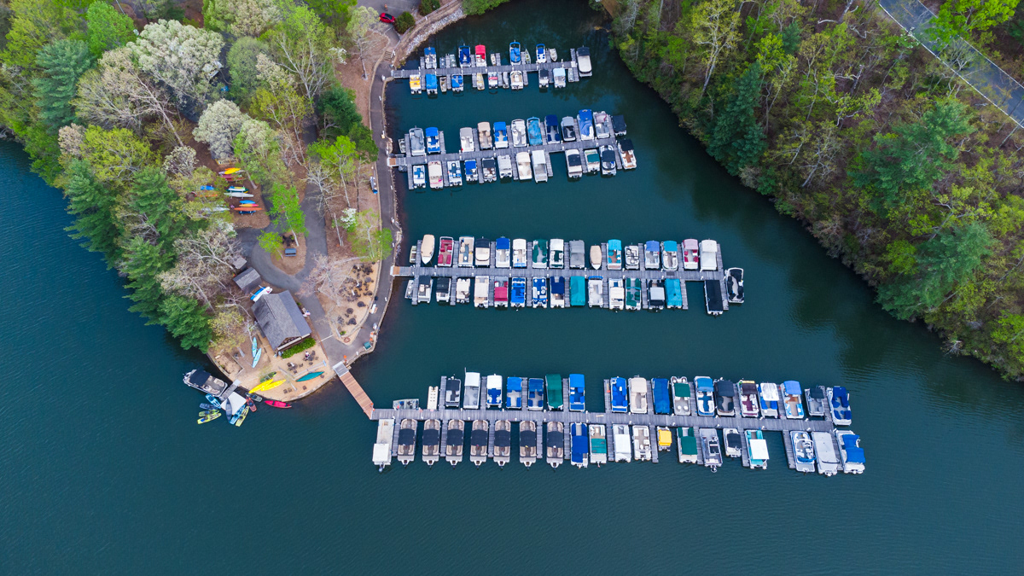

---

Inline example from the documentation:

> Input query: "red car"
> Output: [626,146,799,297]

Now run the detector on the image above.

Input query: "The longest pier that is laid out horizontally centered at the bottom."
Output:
[369,376,843,471]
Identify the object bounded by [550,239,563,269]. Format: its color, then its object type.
white boat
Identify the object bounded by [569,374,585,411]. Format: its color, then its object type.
blue boat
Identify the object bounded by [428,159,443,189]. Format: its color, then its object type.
white boat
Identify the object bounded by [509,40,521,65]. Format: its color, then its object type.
blue boat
